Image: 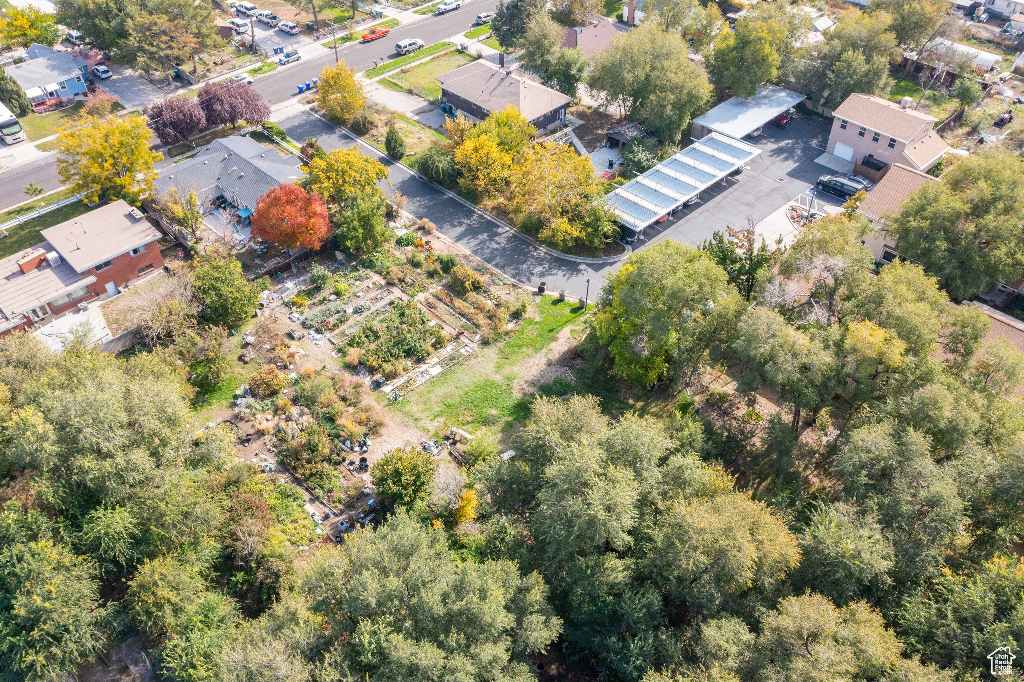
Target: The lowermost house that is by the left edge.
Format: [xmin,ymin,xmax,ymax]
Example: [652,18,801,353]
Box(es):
[0,200,166,355]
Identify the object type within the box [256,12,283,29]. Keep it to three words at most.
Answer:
vehicle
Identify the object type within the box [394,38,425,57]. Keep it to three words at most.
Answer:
car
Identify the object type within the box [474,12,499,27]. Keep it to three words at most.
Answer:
car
